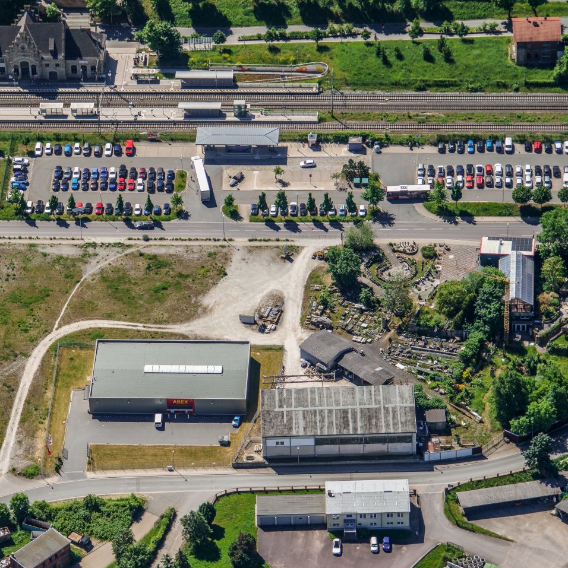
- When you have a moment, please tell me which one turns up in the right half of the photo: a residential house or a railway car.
residential house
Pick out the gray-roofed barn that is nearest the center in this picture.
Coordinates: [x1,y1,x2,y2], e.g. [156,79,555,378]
[301,330,354,378]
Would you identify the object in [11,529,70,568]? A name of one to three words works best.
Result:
building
